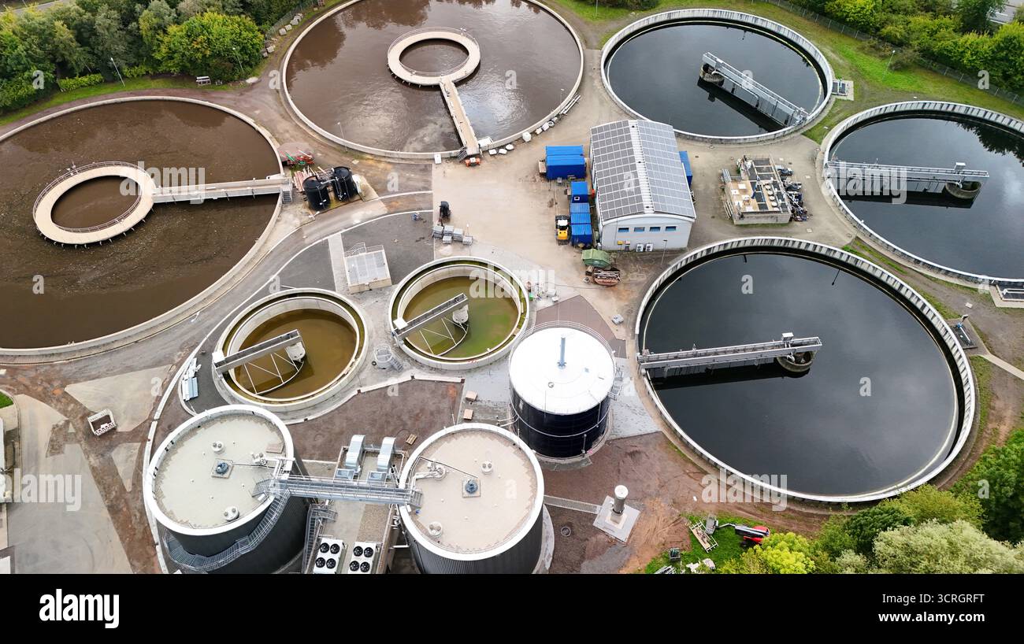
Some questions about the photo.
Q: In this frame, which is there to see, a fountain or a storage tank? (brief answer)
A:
storage tank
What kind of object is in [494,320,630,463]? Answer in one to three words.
storage tank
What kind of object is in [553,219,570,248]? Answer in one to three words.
work vehicle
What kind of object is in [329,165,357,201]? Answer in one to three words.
storage tank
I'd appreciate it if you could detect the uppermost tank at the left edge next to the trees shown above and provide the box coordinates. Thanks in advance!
[0,97,294,366]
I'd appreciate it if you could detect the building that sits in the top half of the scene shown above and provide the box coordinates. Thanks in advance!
[587,119,697,252]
